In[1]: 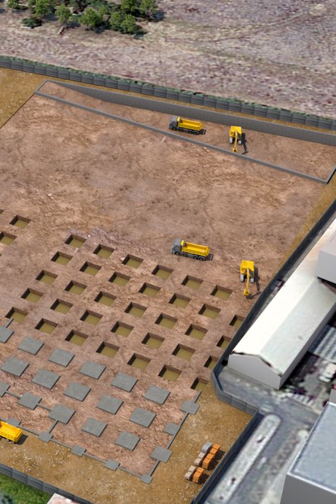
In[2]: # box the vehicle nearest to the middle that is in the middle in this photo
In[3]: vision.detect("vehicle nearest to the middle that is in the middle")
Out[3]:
[173,238,214,262]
